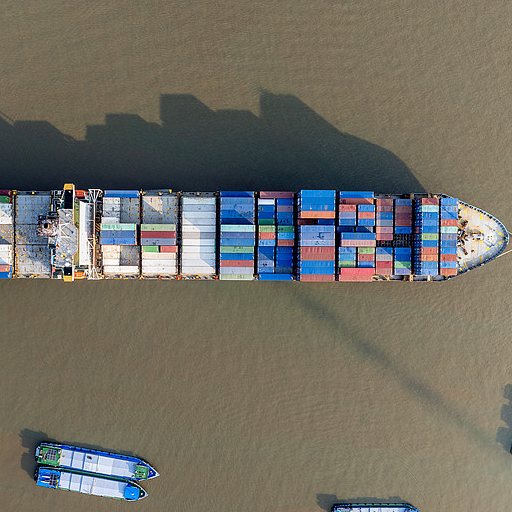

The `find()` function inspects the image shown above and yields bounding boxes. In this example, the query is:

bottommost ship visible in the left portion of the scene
[34,465,148,499]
